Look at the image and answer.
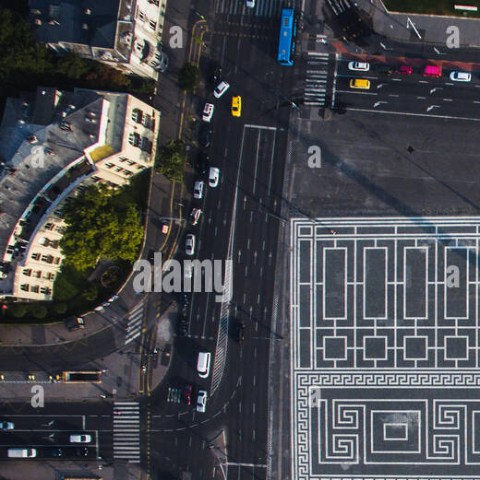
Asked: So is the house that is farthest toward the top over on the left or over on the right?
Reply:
left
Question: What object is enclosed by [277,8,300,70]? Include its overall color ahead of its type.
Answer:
blue bus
